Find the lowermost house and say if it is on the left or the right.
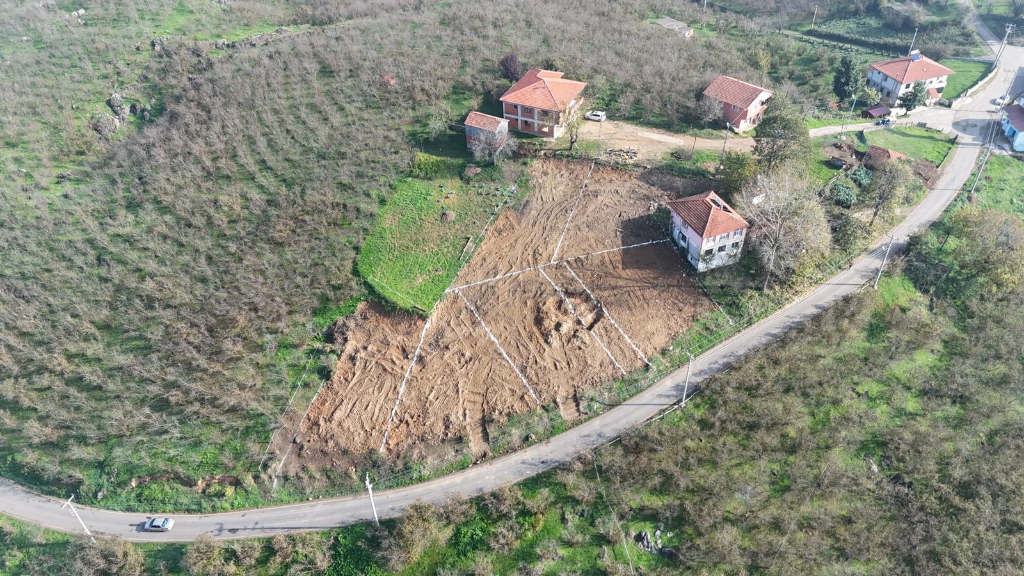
right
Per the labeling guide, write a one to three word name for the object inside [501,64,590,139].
house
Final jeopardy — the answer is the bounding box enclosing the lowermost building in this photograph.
[665,191,748,271]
